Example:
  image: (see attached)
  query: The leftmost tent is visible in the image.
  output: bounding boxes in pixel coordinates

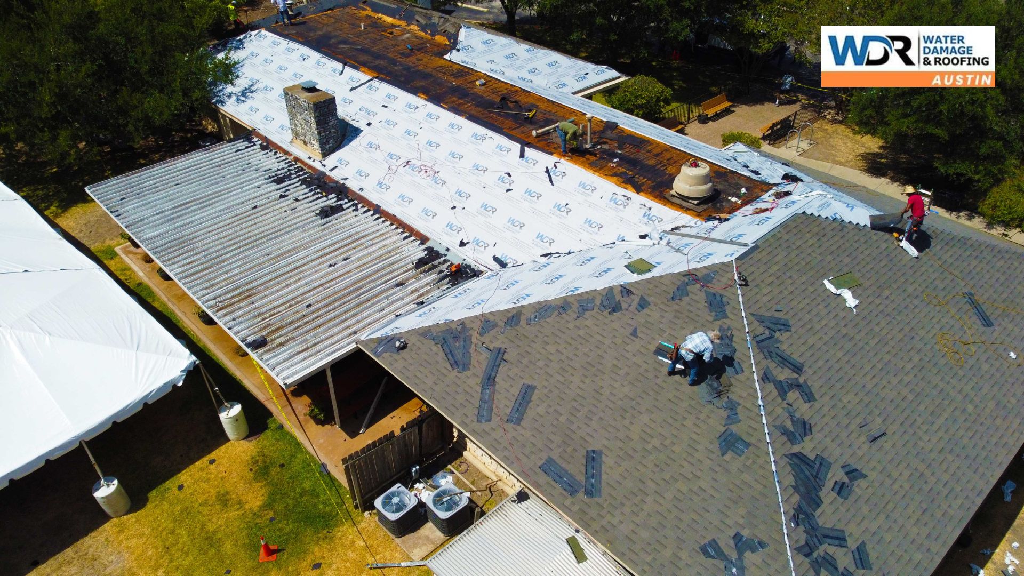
[0,188,222,487]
